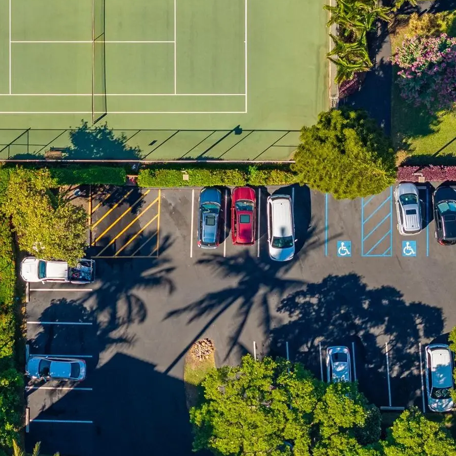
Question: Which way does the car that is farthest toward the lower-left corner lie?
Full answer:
I'd say the car that is farthest toward the lower-left corner is aligned from side to side in the picture.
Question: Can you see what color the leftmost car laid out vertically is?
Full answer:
The color of the leftmost car laid out vertically is blue.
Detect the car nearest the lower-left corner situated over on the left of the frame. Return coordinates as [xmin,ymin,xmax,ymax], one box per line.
[25,355,86,382]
